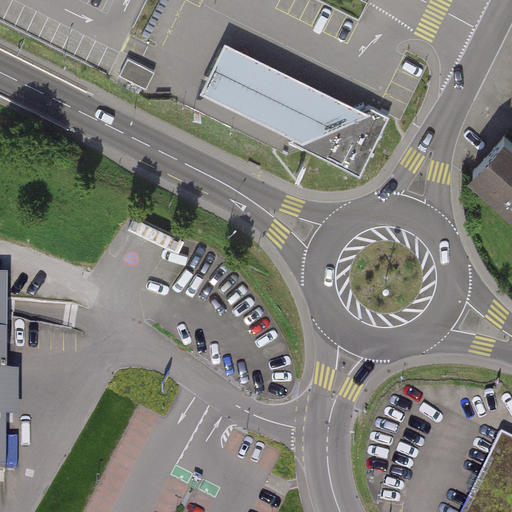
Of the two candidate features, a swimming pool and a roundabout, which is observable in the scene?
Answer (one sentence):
It is a roundabout that can be seen here.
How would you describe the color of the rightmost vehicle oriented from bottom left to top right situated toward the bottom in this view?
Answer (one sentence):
From above, the rightmost vehicle oriented from bottom left to top right situated toward the bottom appears black.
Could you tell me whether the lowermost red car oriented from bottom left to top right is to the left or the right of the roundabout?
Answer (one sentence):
The lowermost red car oriented from bottom left to top right is to the left of the roundabout.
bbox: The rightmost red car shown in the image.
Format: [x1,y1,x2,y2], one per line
[402,384,424,403]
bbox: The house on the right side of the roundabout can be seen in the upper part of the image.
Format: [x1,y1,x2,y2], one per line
[468,142,512,230]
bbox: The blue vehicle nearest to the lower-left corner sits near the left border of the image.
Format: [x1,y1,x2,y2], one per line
[6,434,19,468]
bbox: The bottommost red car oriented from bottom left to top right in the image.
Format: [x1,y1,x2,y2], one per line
[248,316,271,336]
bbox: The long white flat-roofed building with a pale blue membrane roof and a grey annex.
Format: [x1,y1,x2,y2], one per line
[200,42,388,178]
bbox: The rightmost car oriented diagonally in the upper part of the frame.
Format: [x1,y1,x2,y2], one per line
[464,128,485,152]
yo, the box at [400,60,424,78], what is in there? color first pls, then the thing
white vehicle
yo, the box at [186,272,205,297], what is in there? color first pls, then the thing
white vehicle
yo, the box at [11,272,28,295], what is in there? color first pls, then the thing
black car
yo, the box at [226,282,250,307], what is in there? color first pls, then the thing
white car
